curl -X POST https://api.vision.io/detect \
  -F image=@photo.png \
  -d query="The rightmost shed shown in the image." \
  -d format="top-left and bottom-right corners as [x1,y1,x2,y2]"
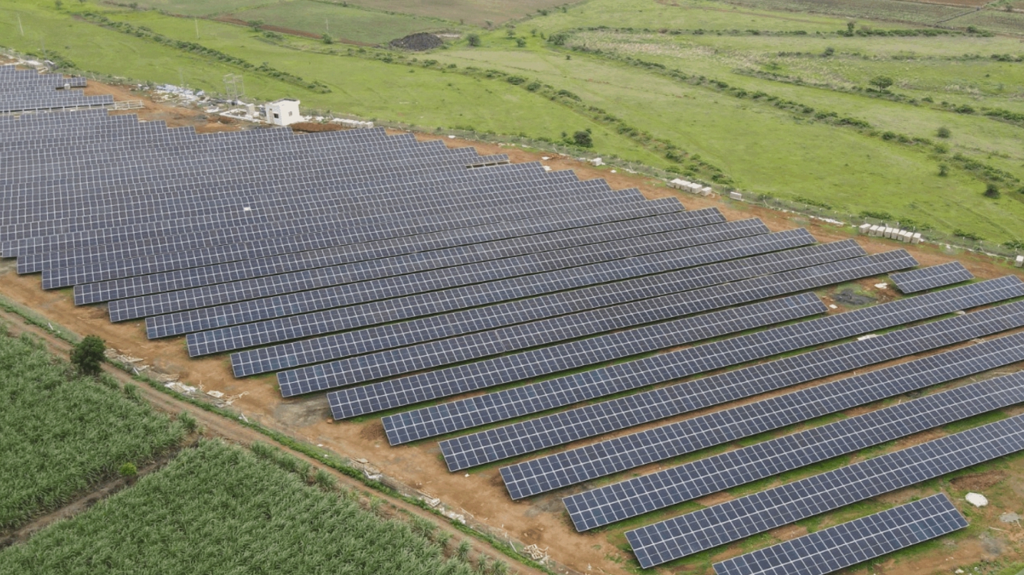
[264,99,298,125]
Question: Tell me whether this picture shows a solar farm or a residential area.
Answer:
solar farm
